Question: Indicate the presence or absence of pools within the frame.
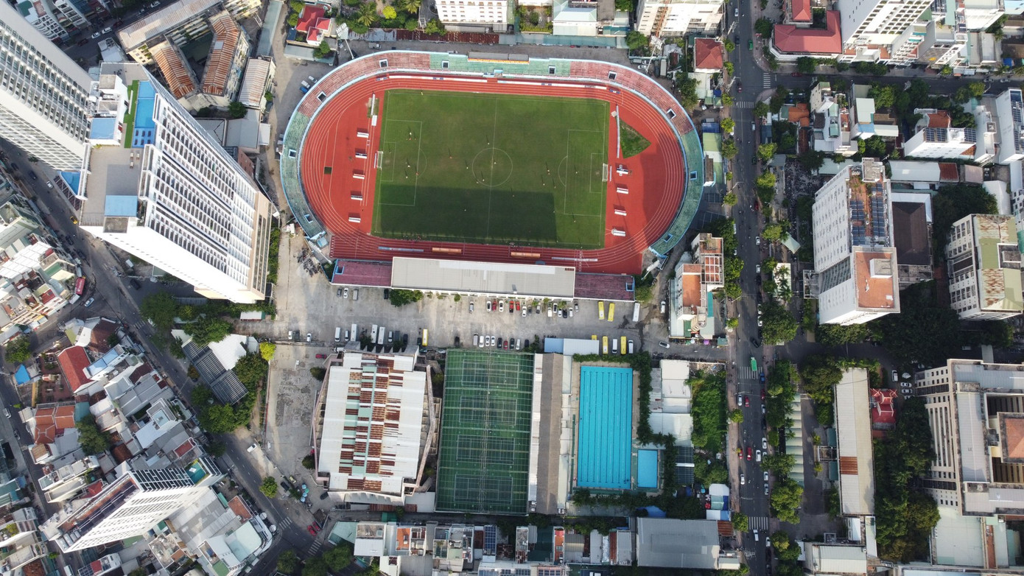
Yes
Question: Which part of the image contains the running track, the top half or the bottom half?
top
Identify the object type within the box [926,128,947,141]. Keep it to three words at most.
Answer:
solar array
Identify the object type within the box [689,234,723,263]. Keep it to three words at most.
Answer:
building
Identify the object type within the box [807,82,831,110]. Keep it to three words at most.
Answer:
house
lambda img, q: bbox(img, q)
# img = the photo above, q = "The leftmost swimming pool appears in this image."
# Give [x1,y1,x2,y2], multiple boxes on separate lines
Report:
[60,171,78,191]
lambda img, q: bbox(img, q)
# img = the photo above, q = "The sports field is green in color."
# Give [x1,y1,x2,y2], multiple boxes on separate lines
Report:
[371,89,609,248]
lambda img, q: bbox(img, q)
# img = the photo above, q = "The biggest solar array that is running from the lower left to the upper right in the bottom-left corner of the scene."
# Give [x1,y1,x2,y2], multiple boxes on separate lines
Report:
[77,485,140,535]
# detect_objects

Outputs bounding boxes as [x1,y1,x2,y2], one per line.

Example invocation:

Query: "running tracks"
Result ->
[303,75,683,274]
